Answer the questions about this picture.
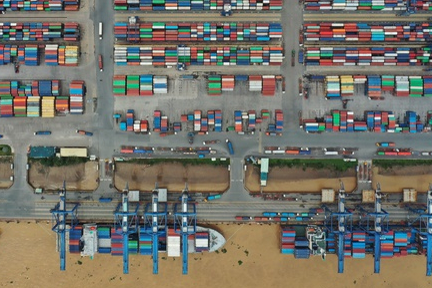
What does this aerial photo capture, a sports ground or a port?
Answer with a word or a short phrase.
port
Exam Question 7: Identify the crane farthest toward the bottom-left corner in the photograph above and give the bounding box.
[52,179,83,271]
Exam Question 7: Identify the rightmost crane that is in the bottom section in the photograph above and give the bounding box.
[400,182,432,275]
